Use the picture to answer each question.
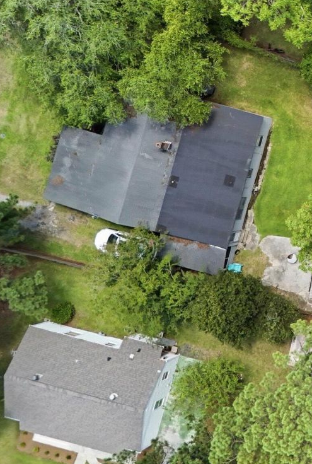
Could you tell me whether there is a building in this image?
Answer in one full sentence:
Yes, the picture does show a building.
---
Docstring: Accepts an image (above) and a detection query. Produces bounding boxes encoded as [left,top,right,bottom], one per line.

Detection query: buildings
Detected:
[4,320,182,453]
[45,87,271,275]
